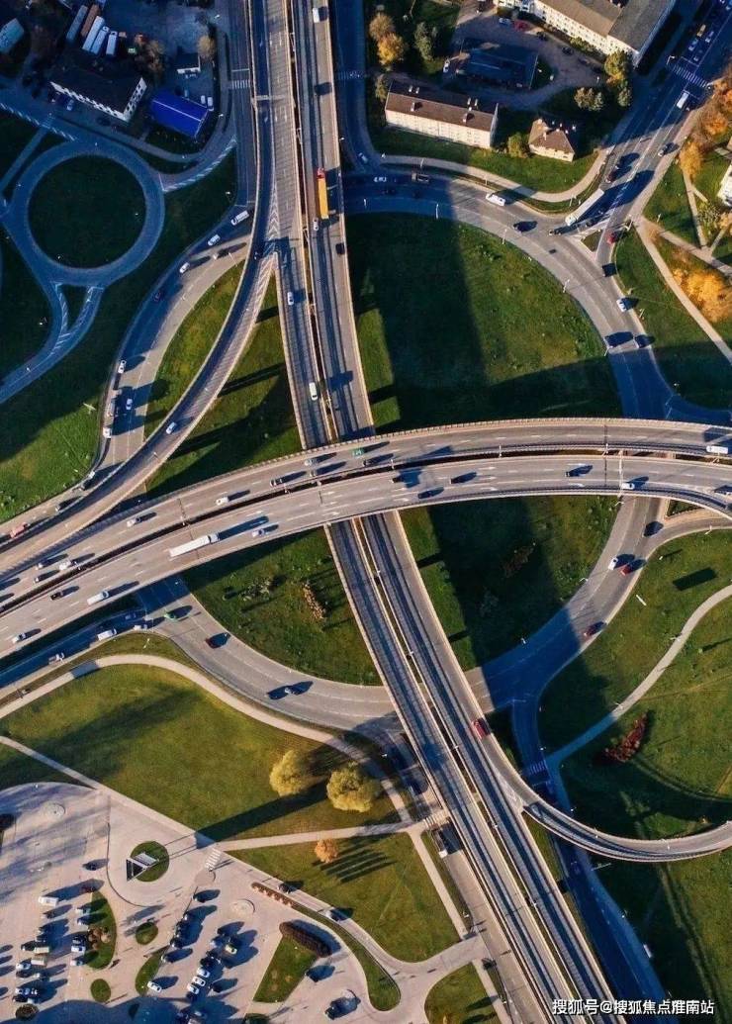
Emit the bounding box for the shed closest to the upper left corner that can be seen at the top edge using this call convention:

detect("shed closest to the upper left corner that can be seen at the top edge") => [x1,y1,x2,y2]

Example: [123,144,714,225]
[0,15,31,62]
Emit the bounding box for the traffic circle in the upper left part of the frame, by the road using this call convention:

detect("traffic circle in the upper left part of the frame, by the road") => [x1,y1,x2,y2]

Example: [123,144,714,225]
[12,140,162,332]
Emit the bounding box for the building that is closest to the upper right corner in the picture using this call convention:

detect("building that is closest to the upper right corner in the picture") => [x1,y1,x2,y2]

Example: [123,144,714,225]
[601,0,677,74]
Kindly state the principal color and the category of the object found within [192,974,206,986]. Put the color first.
white vehicle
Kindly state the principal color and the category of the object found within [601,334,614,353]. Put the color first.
gray vehicle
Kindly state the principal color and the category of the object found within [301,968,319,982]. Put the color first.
black vehicle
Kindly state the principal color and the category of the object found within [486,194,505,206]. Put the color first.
white vehicle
